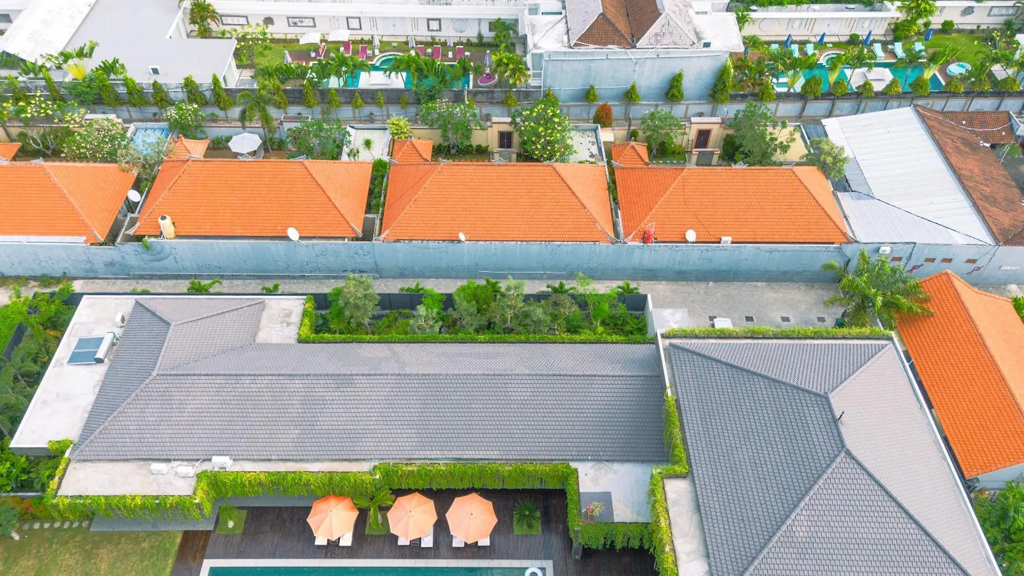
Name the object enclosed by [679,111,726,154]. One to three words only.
building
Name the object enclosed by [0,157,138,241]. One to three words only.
house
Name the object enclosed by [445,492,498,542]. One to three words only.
umbrella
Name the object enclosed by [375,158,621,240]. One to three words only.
house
